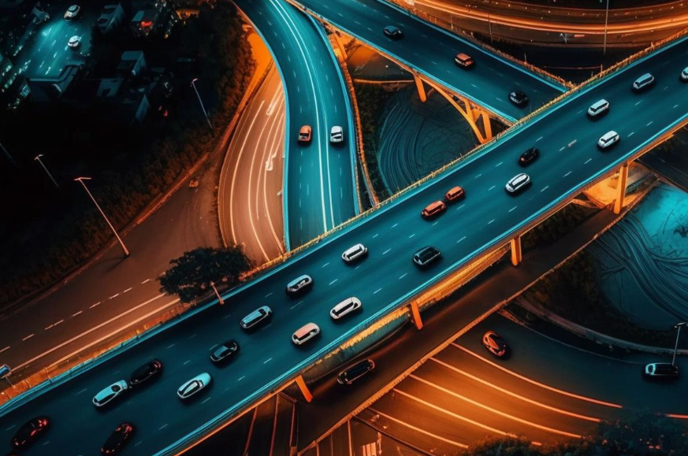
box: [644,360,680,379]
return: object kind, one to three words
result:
car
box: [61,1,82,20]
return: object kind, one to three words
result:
car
